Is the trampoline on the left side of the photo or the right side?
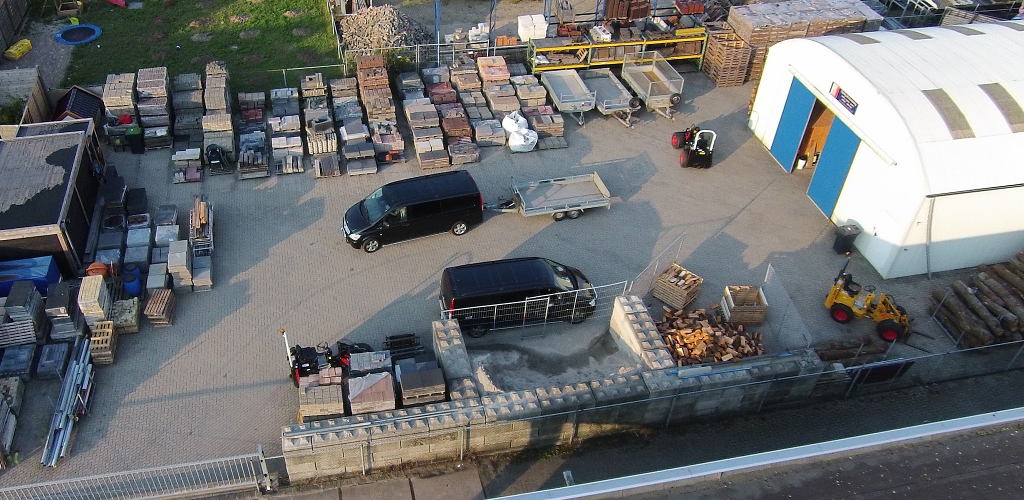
left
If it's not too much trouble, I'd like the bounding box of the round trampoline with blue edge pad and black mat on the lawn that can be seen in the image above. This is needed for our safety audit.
[55,25,101,48]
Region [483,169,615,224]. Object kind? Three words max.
trailer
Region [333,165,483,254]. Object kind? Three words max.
van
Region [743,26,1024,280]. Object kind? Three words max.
building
